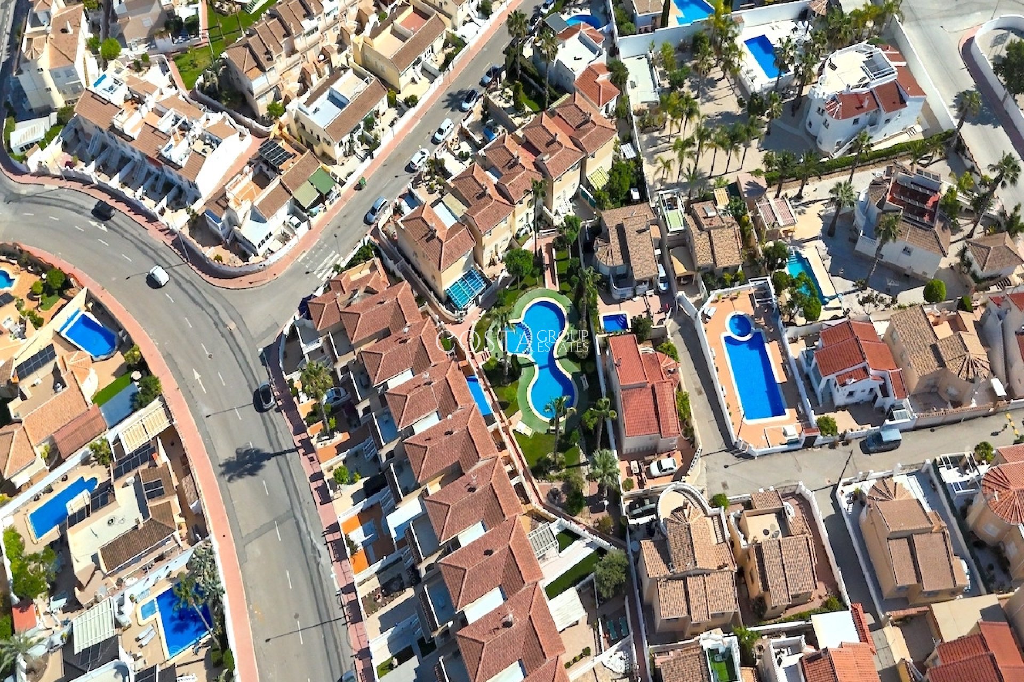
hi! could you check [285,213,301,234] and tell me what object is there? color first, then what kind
white car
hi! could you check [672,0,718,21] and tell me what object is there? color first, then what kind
blue swimming pool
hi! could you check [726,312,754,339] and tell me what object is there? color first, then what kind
blue swimming pool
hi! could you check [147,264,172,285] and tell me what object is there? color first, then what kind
white car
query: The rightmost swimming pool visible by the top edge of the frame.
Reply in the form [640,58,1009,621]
[740,30,795,81]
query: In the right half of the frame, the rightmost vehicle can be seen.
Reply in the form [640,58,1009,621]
[864,424,906,450]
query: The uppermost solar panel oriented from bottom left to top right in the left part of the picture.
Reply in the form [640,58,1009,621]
[15,344,57,379]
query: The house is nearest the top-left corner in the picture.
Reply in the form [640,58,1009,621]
[20,0,94,105]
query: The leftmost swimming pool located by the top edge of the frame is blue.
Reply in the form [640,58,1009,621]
[563,12,602,30]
